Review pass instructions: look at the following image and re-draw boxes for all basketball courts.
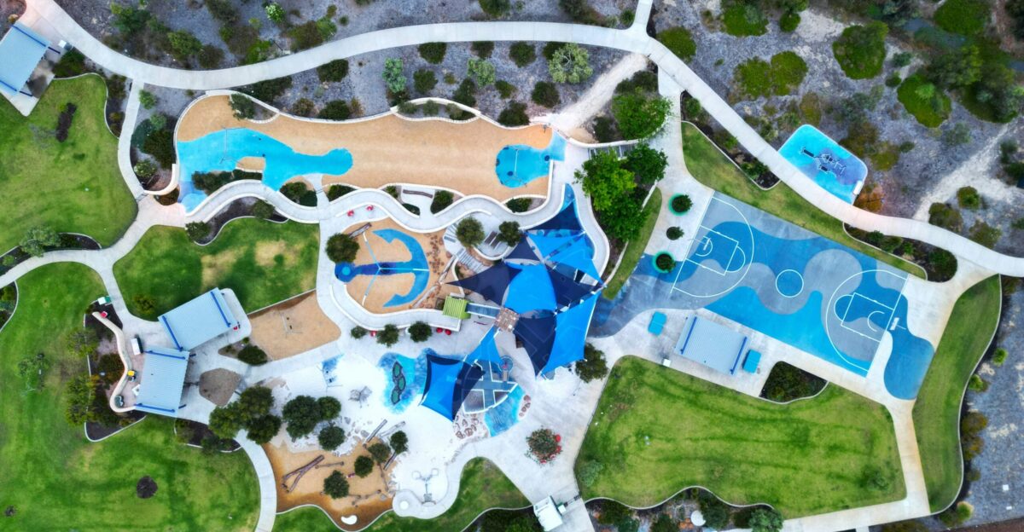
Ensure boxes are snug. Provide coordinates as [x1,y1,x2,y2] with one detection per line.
[588,191,934,400]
